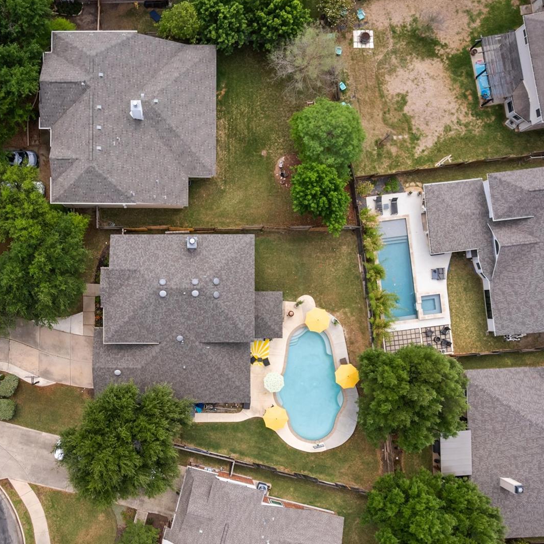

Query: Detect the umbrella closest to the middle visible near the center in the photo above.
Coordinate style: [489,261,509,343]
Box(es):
[305,307,329,333]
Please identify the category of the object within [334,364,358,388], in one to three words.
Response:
umbrella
